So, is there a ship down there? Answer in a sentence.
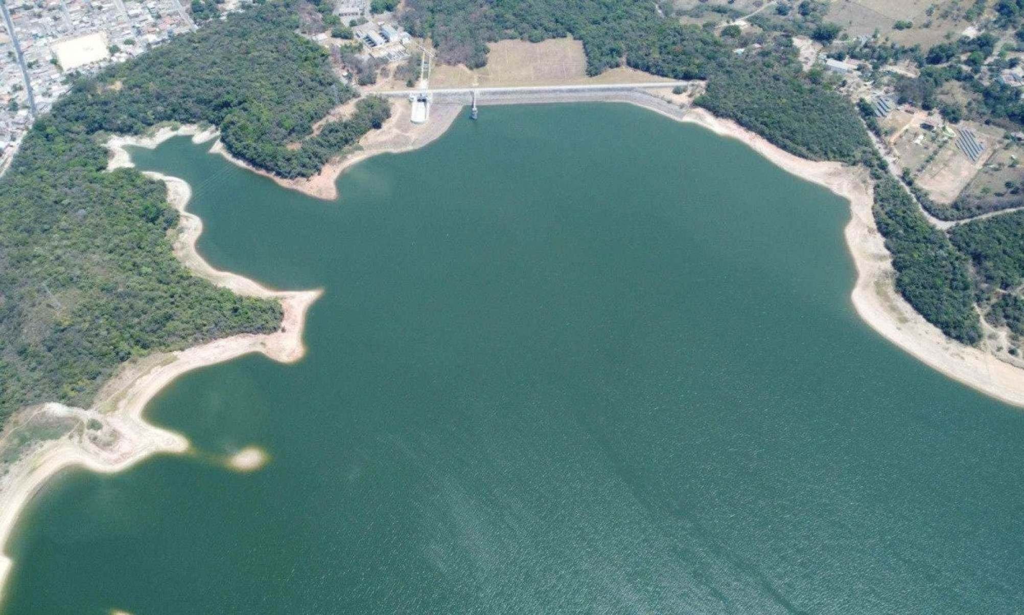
No, no ship is visible in the view.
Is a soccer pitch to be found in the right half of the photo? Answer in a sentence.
No, there's no soccer pitch to be seen in the right half of the photo.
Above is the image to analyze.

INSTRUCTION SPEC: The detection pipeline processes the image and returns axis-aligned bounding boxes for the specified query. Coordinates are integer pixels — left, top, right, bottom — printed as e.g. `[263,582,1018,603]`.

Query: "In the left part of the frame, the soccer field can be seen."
[58,34,109,71]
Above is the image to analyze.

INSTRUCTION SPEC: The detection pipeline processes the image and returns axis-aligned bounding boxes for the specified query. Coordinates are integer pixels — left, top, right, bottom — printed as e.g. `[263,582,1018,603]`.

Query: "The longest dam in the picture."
[371,36,702,108]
